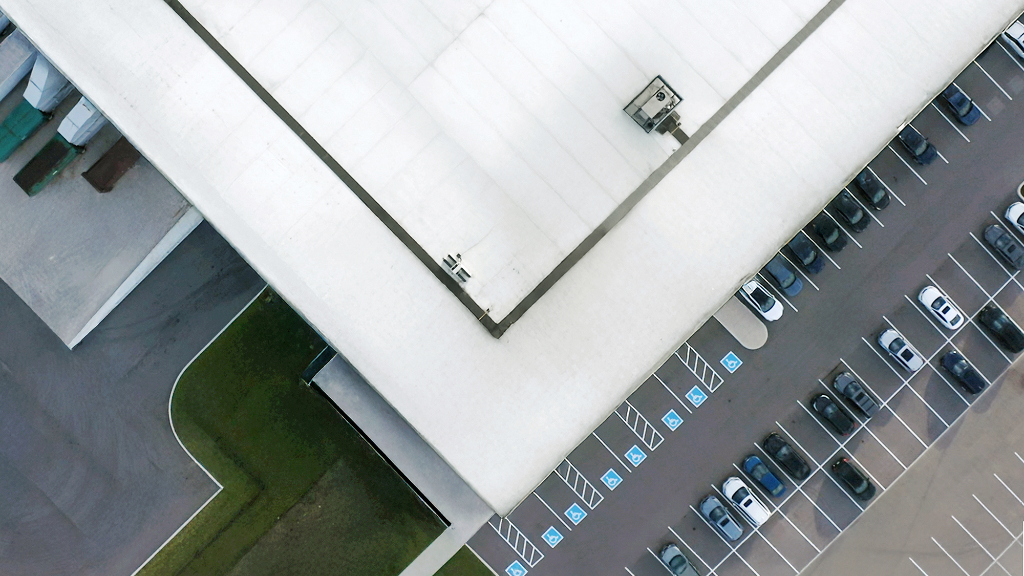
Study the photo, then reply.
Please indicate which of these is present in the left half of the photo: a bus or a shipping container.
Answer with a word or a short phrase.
shipping container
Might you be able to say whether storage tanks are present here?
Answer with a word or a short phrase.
No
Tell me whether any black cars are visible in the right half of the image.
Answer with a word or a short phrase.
Yes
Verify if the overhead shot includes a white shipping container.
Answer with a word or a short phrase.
No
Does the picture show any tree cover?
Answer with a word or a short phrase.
No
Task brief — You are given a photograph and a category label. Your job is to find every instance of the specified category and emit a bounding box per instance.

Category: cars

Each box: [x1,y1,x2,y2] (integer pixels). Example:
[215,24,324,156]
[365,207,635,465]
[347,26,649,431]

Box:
[877,328,923,373]
[935,82,982,127]
[1002,201,1024,239]
[973,301,1024,355]
[720,475,772,527]
[803,211,847,255]
[979,222,1024,272]
[810,391,857,438]
[782,233,824,275]
[847,168,890,210]
[937,348,987,396]
[738,276,782,320]
[892,123,938,168]
[831,370,882,420]
[828,454,877,503]
[742,454,786,498]
[761,430,813,482]
[658,540,706,576]
[1001,21,1024,61]
[915,283,966,333]
[698,494,745,542]
[826,189,871,234]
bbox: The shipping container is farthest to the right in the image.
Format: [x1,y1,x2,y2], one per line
[80,132,144,196]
